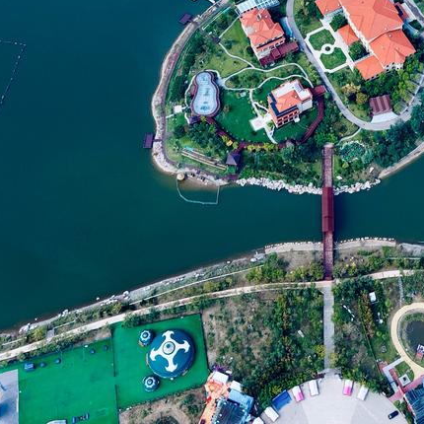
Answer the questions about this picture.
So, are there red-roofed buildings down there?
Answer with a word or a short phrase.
Yes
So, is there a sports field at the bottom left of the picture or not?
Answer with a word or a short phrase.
Yes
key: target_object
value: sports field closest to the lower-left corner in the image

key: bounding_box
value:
[16,337,118,424]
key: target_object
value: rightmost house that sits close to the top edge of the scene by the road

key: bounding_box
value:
[316,0,416,83]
